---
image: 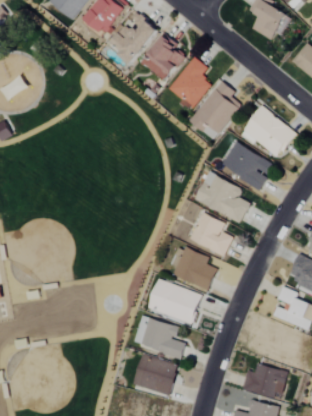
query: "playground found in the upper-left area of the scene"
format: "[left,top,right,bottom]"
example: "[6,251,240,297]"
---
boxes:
[0,56,42,112]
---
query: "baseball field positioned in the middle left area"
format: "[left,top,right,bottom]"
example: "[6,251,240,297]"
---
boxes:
[4,218,76,286]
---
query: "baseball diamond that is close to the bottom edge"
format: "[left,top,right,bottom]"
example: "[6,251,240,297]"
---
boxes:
[6,344,76,414]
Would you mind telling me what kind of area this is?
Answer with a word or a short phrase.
residential area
